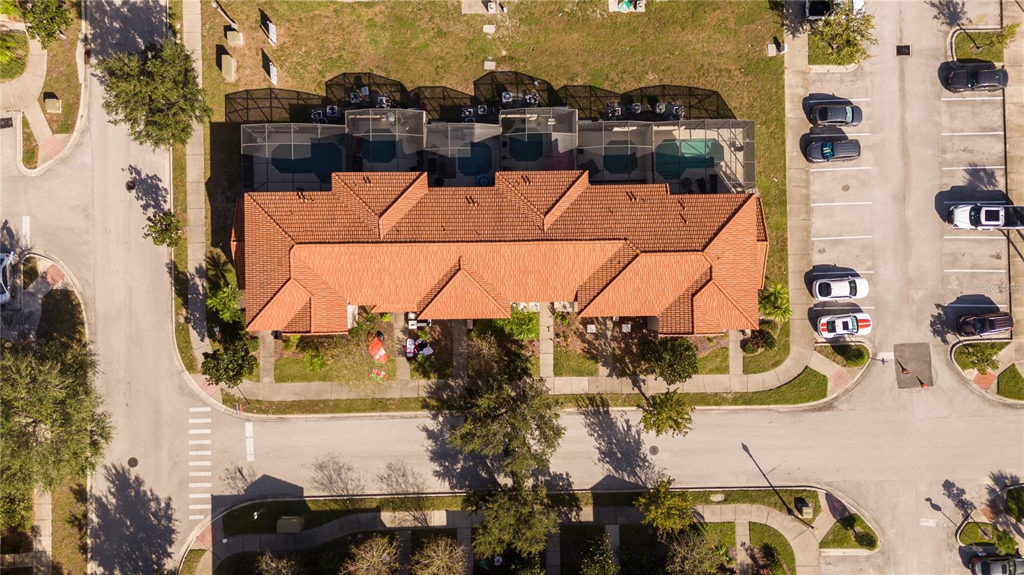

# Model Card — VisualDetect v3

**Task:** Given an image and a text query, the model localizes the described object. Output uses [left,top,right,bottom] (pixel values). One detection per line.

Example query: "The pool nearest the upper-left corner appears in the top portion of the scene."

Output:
[270,143,342,185]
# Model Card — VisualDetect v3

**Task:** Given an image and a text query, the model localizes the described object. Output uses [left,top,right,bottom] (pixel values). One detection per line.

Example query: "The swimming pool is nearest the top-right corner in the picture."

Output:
[654,138,725,180]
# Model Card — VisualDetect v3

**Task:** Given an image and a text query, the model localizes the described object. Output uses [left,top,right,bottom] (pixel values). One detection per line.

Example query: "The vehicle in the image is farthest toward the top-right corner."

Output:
[945,67,1005,94]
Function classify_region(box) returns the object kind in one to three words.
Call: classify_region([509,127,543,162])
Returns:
swimming pool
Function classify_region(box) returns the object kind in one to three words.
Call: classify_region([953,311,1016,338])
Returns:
car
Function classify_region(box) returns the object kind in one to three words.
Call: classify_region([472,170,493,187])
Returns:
umbrella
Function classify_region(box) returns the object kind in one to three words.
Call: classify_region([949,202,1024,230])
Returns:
truck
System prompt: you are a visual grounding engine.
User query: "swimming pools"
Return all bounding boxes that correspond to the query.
[654,138,725,180]
[270,143,342,185]
[509,127,543,162]
[604,140,638,174]
[362,128,397,163]
[458,142,491,176]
